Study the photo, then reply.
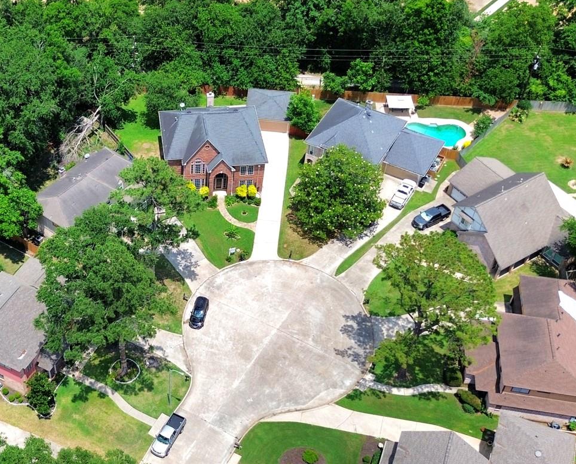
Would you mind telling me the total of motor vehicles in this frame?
4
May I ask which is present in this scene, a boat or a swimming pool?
swimming pool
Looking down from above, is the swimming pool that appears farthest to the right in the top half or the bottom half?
top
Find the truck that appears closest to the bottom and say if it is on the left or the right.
left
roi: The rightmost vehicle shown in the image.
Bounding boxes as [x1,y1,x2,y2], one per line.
[412,201,451,228]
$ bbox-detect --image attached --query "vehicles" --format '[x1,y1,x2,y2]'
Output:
[189,289,209,326]
[149,407,191,459]
[412,201,451,228]
[390,178,416,207]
